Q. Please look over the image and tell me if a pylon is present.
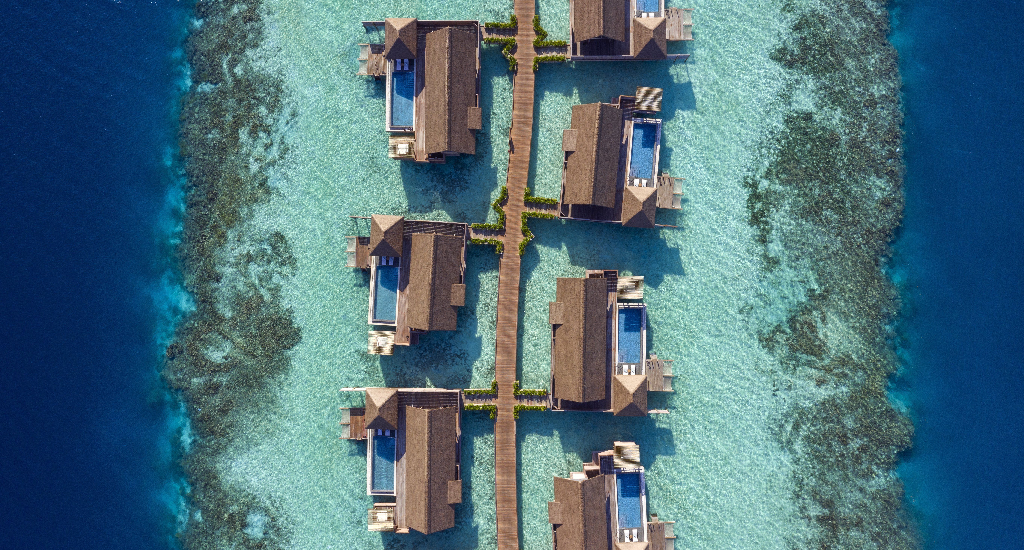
No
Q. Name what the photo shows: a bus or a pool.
pool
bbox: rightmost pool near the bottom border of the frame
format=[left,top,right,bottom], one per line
[614,464,647,539]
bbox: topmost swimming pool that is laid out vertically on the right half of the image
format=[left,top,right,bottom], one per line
[626,119,662,188]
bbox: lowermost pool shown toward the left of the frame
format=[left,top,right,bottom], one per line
[366,429,396,495]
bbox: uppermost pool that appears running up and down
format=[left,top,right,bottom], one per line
[385,61,415,134]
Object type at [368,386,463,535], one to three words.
house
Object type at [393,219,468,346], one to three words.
house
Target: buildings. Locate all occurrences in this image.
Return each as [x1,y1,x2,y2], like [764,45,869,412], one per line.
[557,94,650,230]
[368,386,463,535]
[569,0,663,63]
[549,268,619,411]
[548,446,645,550]
[393,219,468,346]
[387,25,483,164]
